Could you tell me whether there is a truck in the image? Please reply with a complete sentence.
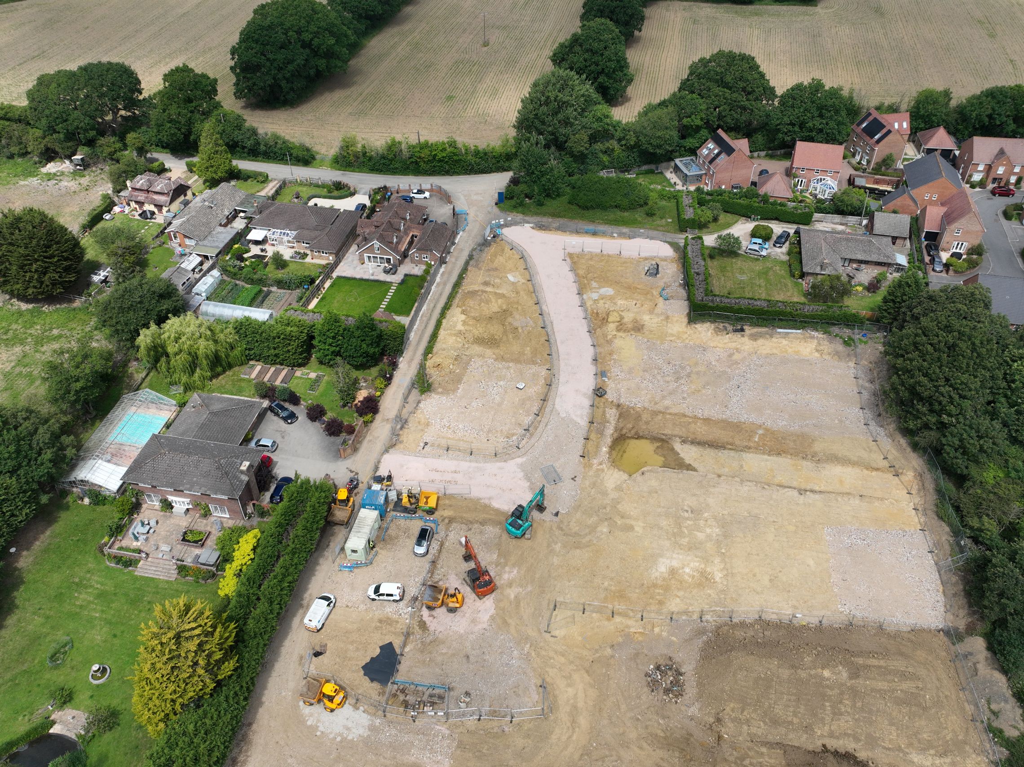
Yes, the photo shows a truck.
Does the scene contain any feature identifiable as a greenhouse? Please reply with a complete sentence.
Yes, a greenhouse appears in the view.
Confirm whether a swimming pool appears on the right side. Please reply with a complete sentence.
No, there's no swimming pool to be seen on the right side.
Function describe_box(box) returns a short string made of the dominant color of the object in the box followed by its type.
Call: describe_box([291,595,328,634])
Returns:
white van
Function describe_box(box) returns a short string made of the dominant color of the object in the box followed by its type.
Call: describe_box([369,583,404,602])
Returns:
white vehicle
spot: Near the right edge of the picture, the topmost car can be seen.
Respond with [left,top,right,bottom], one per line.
[990,183,1015,197]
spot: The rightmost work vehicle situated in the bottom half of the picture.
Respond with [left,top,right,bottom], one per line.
[506,482,547,543]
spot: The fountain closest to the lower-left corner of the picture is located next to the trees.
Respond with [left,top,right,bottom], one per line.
[87,661,111,683]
